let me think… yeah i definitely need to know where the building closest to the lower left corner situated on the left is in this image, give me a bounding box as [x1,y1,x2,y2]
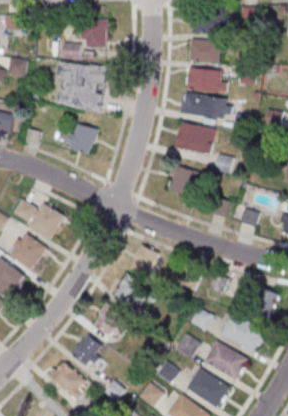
[50,362,86,398]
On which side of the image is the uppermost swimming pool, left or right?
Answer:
right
